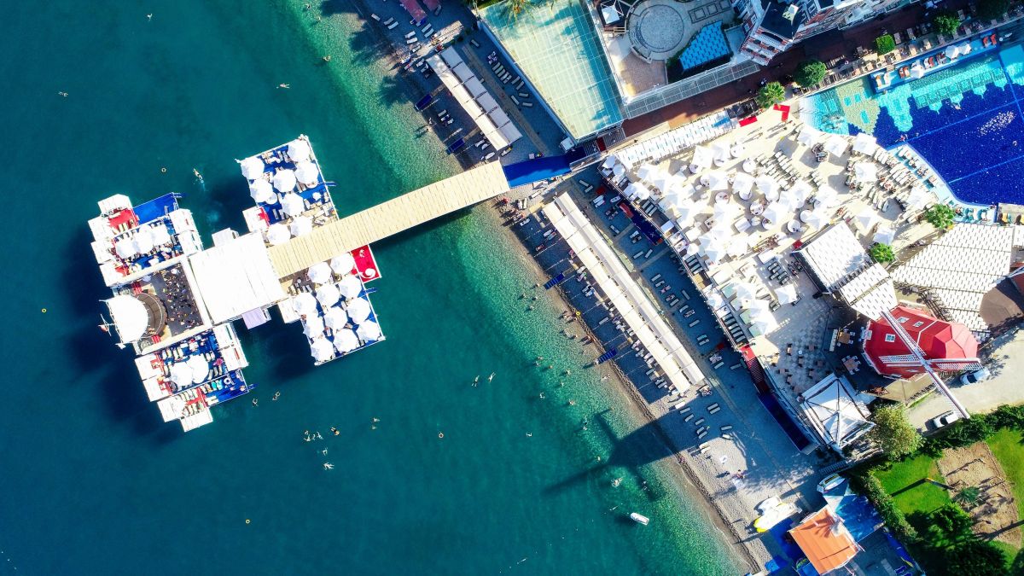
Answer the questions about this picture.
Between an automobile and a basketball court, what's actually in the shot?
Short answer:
automobile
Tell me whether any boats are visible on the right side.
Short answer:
Yes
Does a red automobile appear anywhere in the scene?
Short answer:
No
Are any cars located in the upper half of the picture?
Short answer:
No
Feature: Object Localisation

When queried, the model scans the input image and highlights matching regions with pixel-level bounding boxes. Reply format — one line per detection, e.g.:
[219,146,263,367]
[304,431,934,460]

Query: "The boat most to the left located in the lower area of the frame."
[629,511,649,525]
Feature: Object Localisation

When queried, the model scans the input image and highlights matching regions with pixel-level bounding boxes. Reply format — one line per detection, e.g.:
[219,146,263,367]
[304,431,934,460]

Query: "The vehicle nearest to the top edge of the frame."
[963,368,988,384]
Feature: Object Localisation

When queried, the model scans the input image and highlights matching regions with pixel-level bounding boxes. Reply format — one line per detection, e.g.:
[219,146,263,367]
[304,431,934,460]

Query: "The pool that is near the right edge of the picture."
[799,18,1024,206]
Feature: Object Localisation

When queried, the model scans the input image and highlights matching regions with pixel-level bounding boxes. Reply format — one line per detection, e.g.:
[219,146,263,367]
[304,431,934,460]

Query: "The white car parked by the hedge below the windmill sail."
[934,411,959,427]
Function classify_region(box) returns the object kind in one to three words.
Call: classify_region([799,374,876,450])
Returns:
tent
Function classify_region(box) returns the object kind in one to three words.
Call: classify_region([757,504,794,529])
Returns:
boat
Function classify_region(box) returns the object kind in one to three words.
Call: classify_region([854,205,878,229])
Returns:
umbrella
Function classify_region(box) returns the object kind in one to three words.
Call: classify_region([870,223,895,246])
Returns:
umbrella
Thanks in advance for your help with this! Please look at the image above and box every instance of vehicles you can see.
[963,368,988,384]
[934,411,959,427]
